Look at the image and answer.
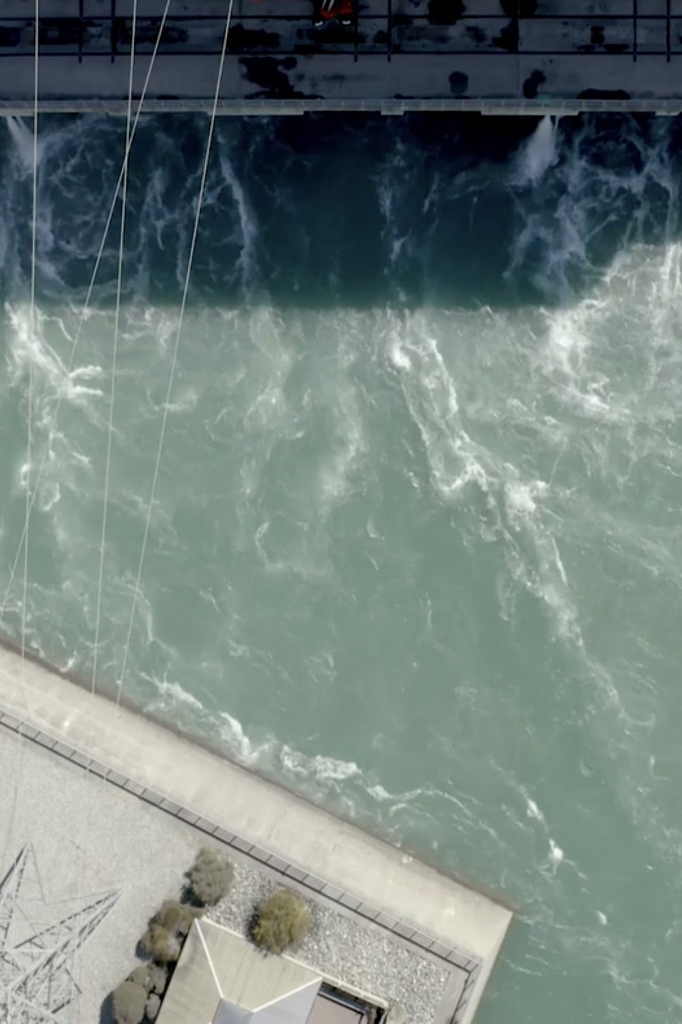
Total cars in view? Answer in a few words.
zero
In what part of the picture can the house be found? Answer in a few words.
bottom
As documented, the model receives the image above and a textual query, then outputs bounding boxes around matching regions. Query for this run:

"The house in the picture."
[157,917,389,1024]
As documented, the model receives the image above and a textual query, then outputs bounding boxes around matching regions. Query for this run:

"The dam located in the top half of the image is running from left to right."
[0,0,682,119]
